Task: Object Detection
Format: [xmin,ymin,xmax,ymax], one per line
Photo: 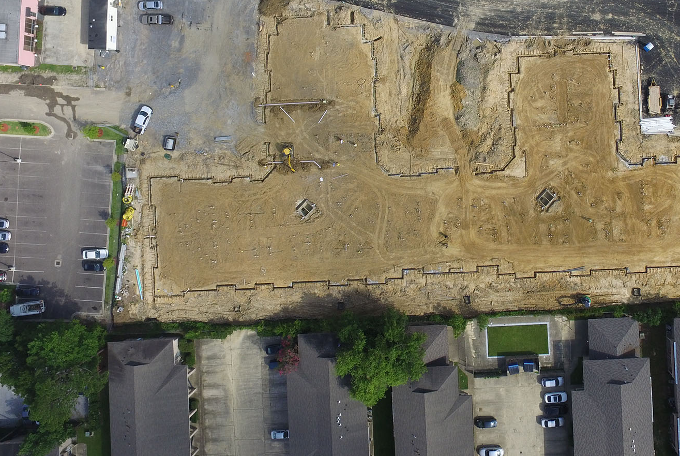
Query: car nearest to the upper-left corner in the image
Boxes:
[39,5,67,17]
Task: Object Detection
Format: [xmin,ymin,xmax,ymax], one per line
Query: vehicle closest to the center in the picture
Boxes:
[279,148,295,173]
